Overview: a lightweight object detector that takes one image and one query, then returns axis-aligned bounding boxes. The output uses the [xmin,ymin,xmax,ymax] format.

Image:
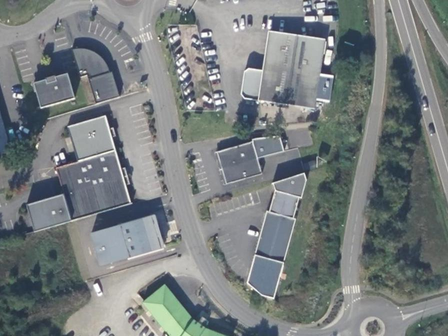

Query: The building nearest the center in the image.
[216,138,284,184]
